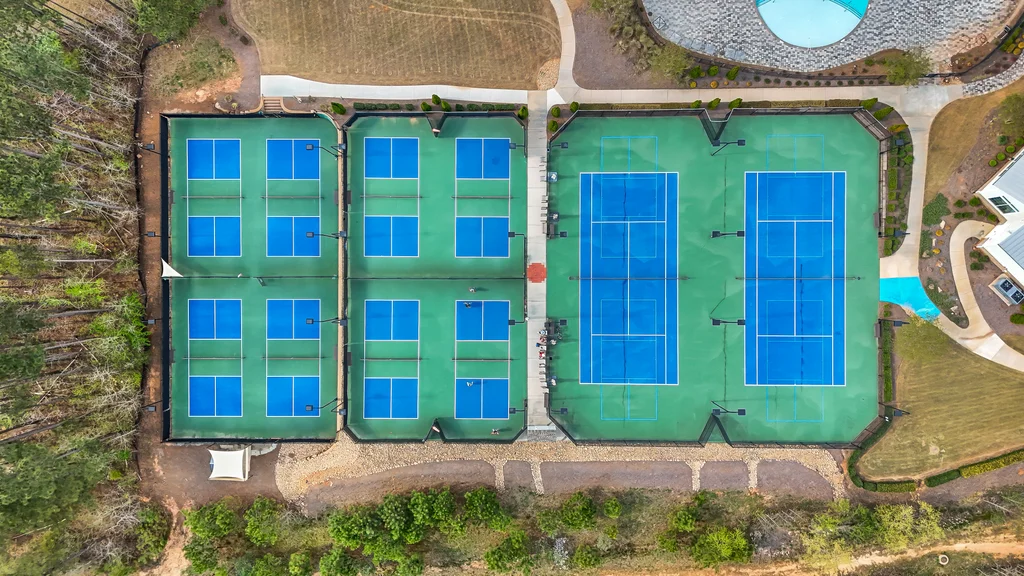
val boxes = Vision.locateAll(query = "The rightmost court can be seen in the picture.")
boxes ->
[745,135,847,422]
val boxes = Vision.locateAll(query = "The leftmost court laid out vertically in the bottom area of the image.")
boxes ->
[188,299,242,417]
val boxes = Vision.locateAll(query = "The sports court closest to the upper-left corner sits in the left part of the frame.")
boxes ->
[187,138,241,257]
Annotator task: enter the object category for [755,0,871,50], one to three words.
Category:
swimming pool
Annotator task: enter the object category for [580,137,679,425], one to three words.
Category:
tennis court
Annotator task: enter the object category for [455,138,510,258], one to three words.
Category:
sports court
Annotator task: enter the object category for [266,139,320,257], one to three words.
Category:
sports court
